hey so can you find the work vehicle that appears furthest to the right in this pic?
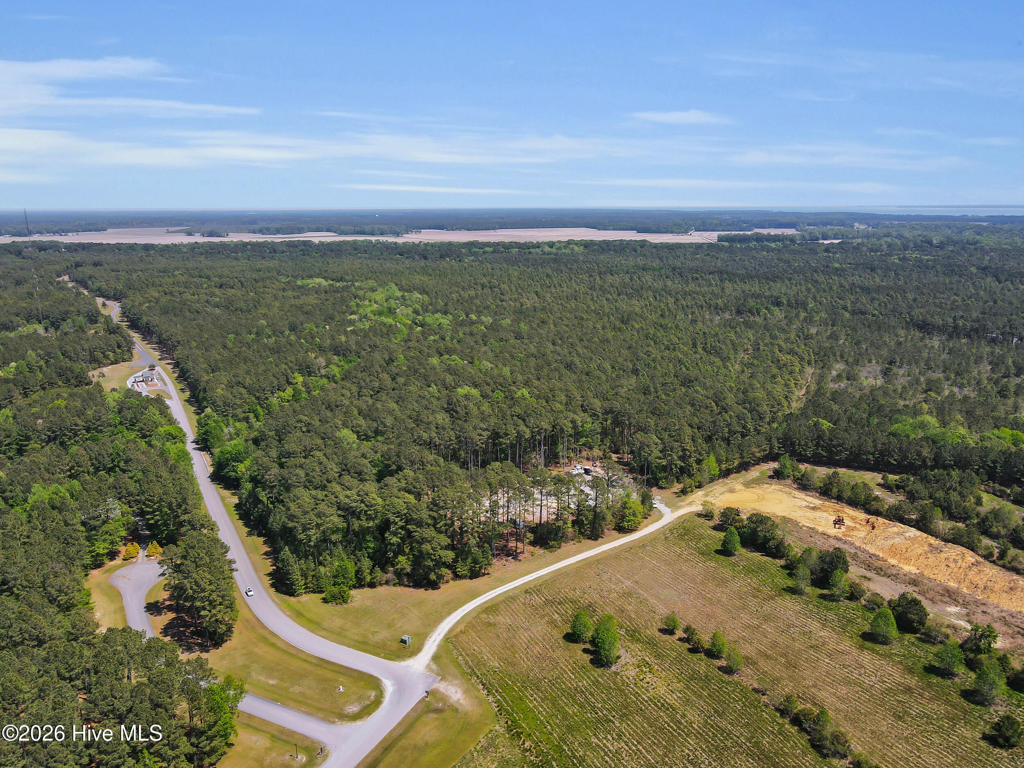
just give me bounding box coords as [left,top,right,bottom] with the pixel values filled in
[832,516,847,530]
